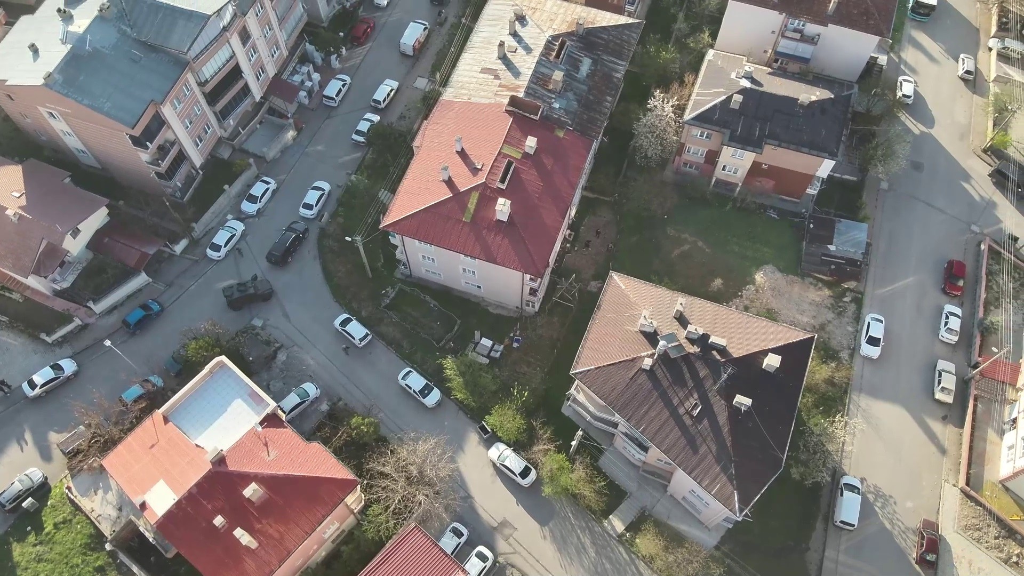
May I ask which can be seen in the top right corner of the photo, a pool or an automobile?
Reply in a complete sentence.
You can see an automobile in the top right corner of the photo.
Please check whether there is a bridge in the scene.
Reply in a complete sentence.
No, the scene contains no bridge.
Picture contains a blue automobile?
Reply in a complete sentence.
Yes, a blue automobile is visible in the scene.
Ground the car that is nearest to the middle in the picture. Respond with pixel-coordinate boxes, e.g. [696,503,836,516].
[395,367,442,411]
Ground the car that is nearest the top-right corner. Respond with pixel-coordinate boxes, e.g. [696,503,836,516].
[994,40,1024,62]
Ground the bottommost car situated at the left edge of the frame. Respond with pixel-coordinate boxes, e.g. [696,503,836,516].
[0,466,53,513]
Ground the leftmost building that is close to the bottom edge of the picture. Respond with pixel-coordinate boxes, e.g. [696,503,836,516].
[102,356,370,576]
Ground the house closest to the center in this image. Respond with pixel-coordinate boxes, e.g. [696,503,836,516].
[379,99,599,307]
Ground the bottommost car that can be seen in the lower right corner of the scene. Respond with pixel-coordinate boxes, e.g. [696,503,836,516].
[910,513,944,574]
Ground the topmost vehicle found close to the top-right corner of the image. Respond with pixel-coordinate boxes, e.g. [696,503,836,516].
[903,0,937,21]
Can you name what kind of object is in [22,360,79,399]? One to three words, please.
car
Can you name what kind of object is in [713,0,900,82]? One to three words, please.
house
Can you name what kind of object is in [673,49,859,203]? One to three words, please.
house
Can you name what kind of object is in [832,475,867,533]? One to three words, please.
van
